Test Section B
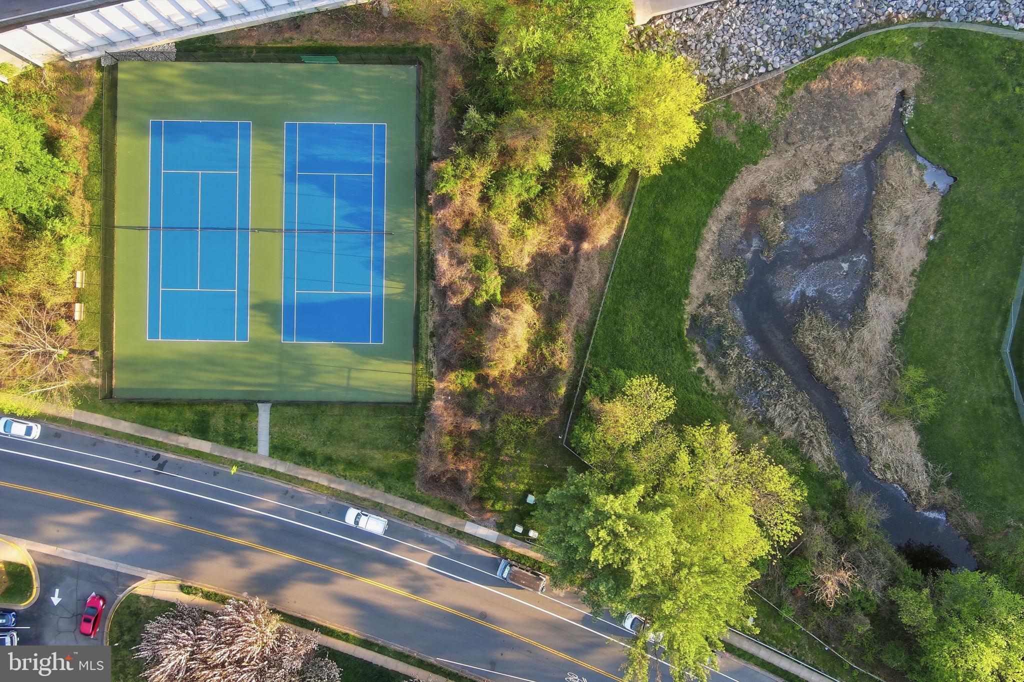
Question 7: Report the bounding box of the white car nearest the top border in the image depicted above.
[0,416,45,441]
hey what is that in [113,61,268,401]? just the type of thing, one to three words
tennis court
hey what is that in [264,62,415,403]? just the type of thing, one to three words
tennis court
